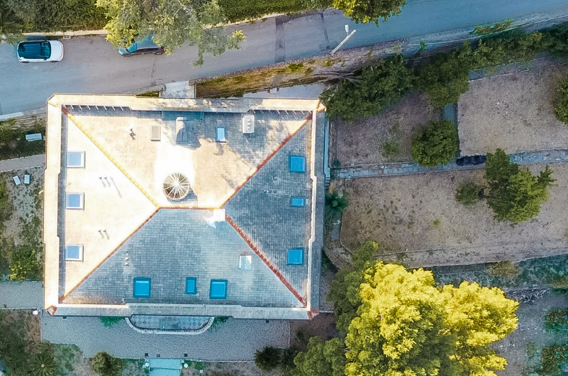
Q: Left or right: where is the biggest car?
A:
left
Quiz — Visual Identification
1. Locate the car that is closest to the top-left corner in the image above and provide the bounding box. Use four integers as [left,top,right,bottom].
[18,39,62,63]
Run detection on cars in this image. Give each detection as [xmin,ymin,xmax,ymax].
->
[117,44,160,58]
[18,39,62,63]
